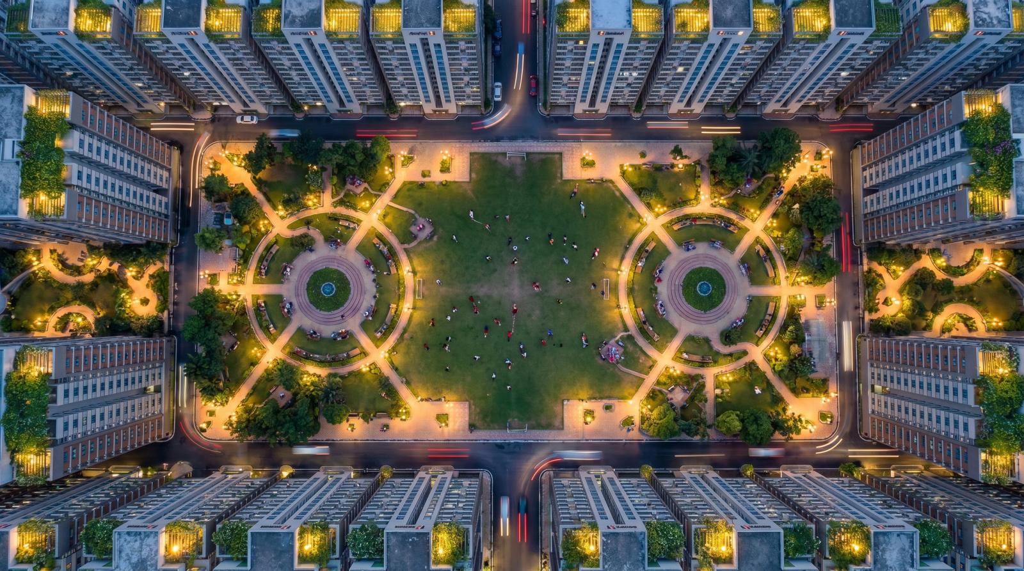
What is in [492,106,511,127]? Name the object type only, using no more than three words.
car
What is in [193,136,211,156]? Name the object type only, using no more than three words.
car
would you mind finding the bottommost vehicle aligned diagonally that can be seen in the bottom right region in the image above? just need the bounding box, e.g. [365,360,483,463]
[821,437,842,454]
